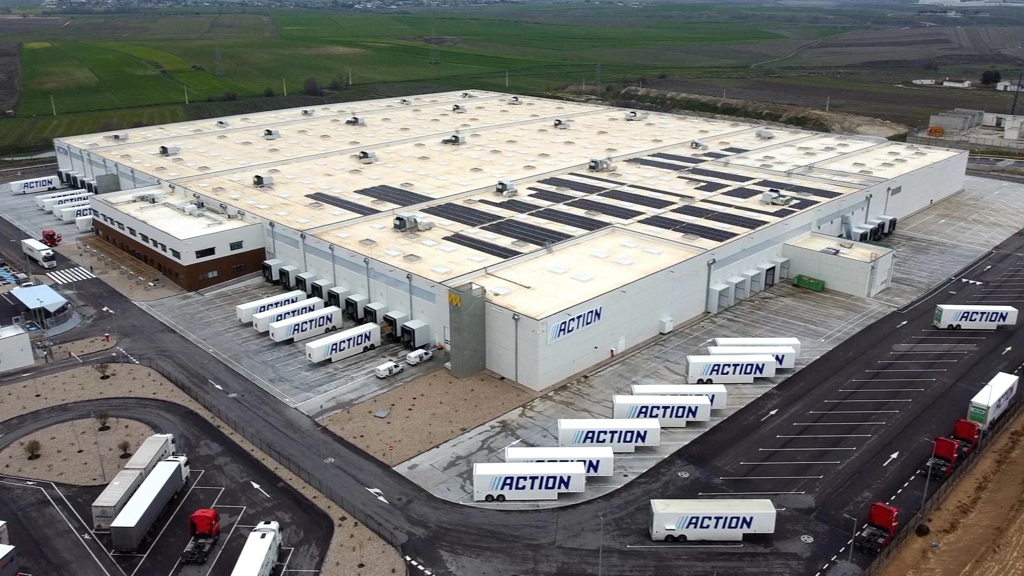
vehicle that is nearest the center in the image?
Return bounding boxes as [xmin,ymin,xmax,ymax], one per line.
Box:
[408,346,437,364]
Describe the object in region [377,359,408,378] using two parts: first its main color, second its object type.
white vehicle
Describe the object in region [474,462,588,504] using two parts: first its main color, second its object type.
white trailer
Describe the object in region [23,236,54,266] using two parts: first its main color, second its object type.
white truck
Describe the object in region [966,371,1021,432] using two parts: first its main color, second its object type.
white trailer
